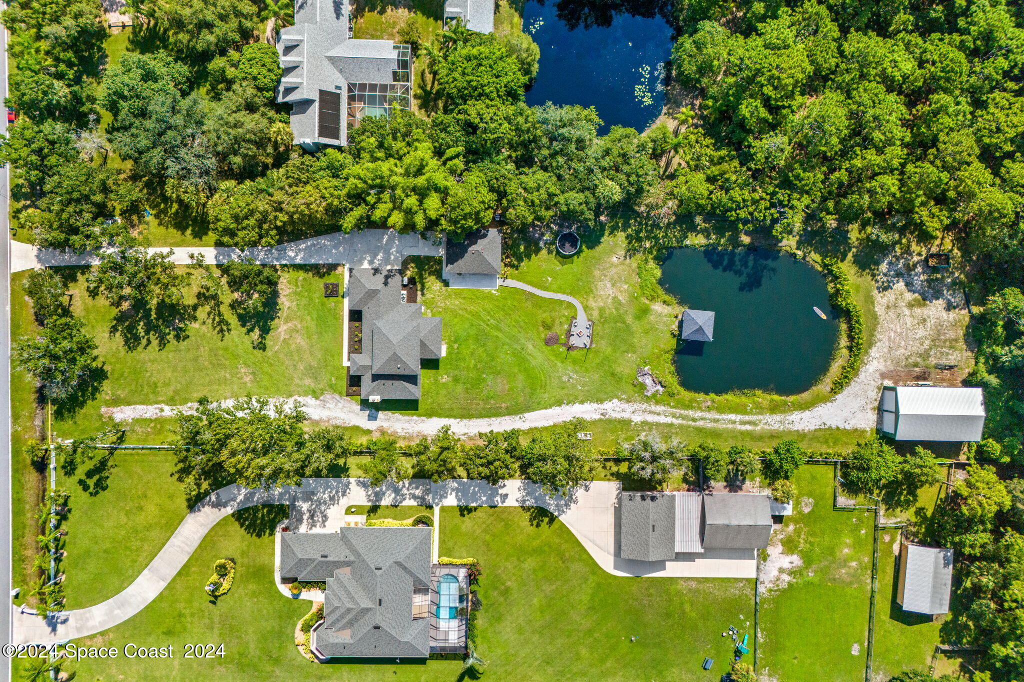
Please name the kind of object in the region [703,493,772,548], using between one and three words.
building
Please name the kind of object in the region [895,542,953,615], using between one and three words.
shed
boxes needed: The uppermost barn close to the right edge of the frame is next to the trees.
[883,386,988,441]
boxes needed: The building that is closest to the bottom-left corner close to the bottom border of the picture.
[281,526,433,657]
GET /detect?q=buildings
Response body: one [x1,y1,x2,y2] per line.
[281,526,433,657]
[444,0,494,35]
[276,0,396,152]
[680,309,715,341]
[348,267,442,403]
[895,542,953,615]
[703,493,772,548]
[883,386,988,441]
[620,492,675,561]
[446,228,501,274]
